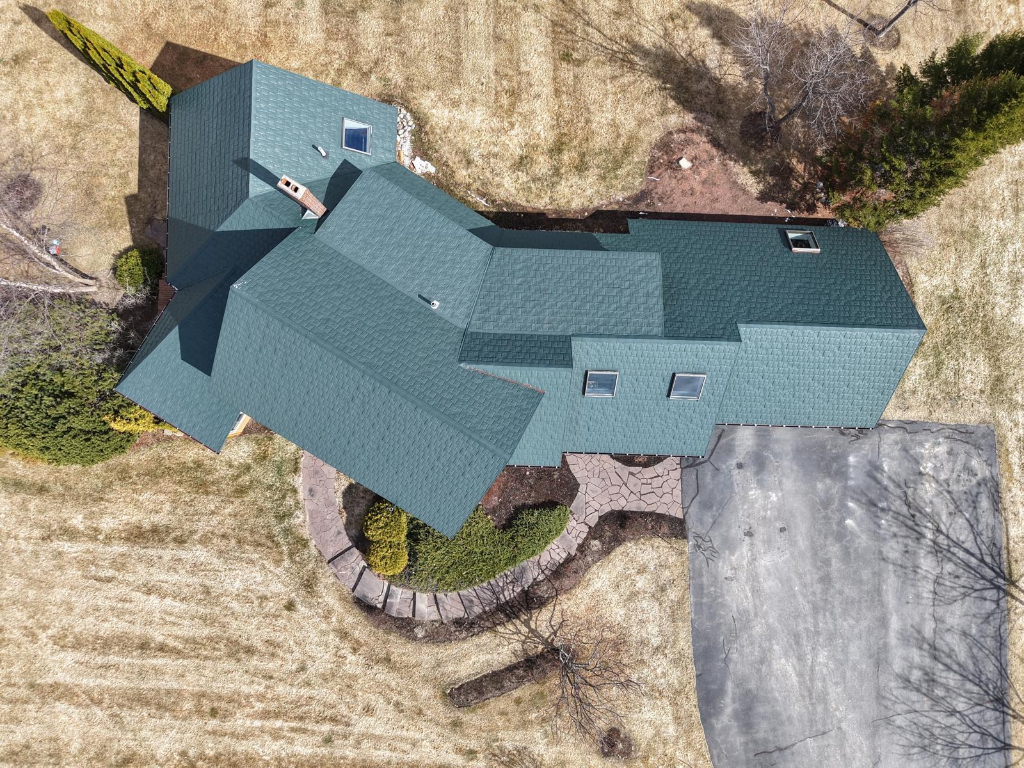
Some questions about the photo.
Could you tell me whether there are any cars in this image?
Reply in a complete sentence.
No, the photo shows no car.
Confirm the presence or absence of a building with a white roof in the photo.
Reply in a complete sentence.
No, no building with a white roof can be seen from above.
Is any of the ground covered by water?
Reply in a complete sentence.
No, there is no water in the image.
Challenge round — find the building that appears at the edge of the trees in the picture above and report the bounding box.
[116,59,926,536]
